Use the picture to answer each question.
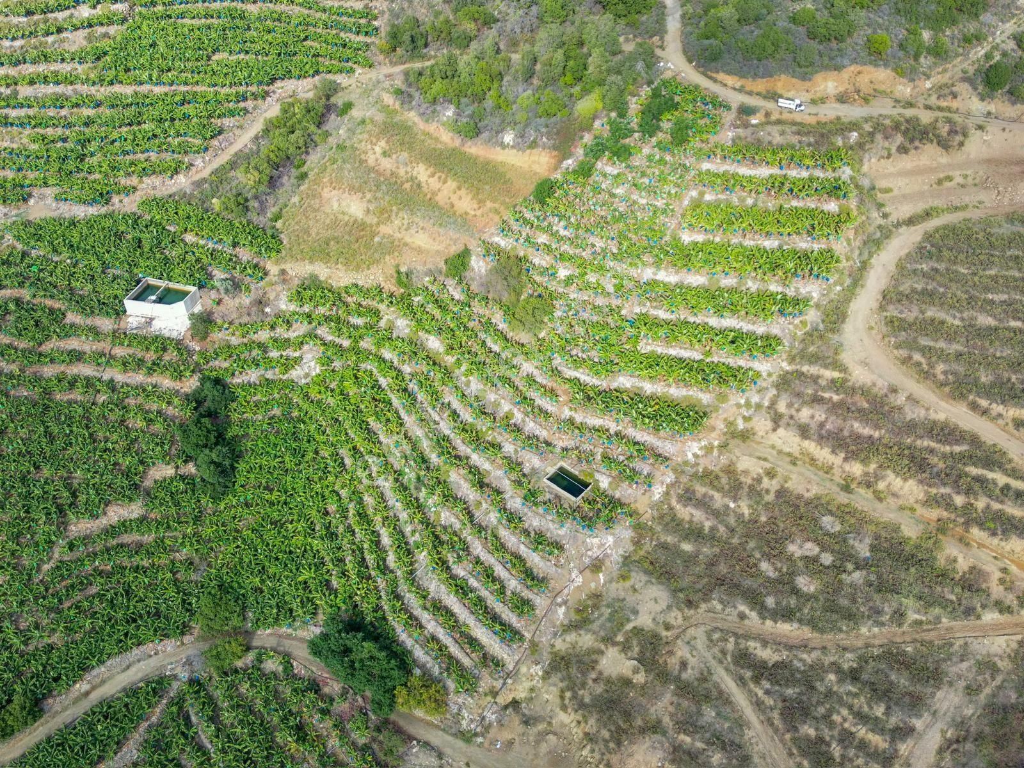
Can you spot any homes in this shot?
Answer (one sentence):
No, no home can be seen from above.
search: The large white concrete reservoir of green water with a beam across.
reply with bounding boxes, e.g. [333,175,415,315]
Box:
[124,278,202,323]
